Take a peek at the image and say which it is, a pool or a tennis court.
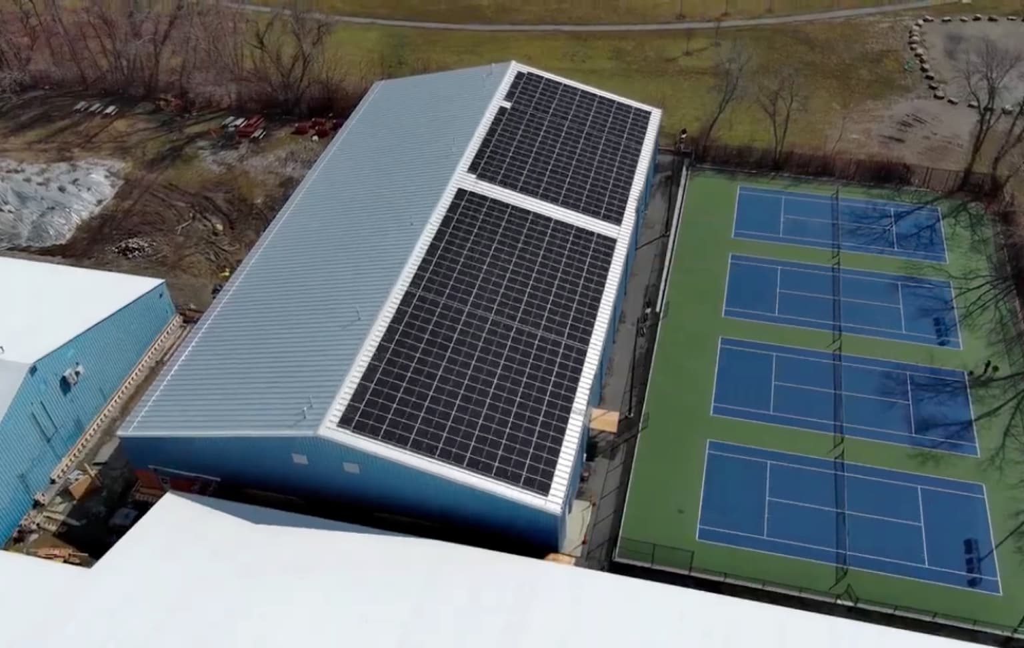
tennis court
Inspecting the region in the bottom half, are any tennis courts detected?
Yes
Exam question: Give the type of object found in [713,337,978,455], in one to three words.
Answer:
tennis court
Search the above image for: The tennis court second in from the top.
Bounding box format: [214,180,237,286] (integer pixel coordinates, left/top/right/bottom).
[724,254,961,347]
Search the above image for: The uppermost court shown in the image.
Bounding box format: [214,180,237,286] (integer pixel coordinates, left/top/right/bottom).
[734,186,947,262]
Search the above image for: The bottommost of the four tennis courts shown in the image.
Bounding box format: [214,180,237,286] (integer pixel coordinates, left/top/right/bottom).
[698,440,1001,592]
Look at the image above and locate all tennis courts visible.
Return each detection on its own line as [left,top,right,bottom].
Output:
[724,254,961,347]
[734,186,947,262]
[713,337,978,455]
[698,440,1001,592]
